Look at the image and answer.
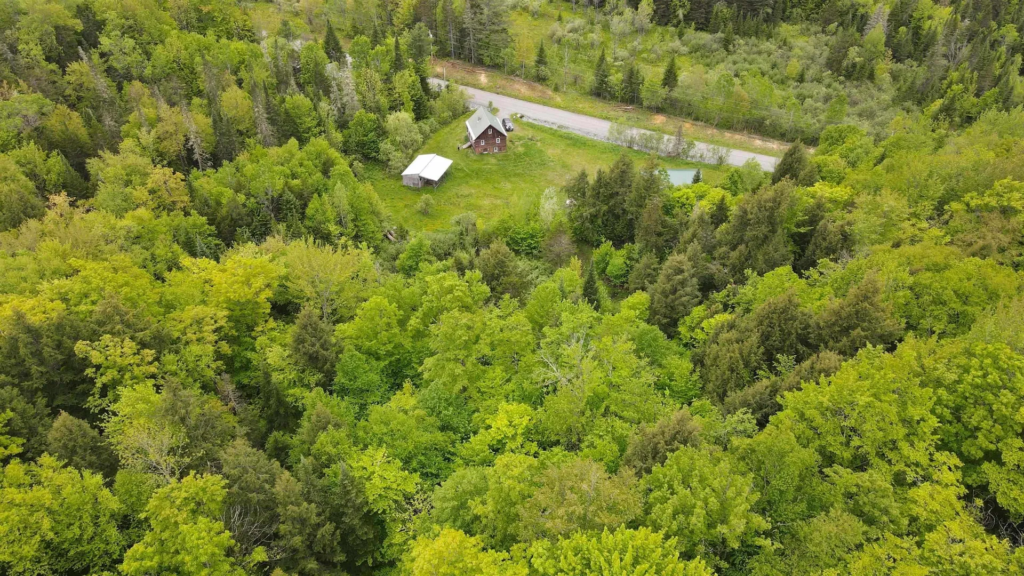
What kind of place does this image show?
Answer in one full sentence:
The area seen from above is a forest.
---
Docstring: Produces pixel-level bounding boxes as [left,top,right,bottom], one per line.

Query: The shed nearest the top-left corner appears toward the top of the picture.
[400,154,453,191]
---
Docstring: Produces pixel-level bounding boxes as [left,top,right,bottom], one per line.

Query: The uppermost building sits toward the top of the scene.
[459,107,508,155]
